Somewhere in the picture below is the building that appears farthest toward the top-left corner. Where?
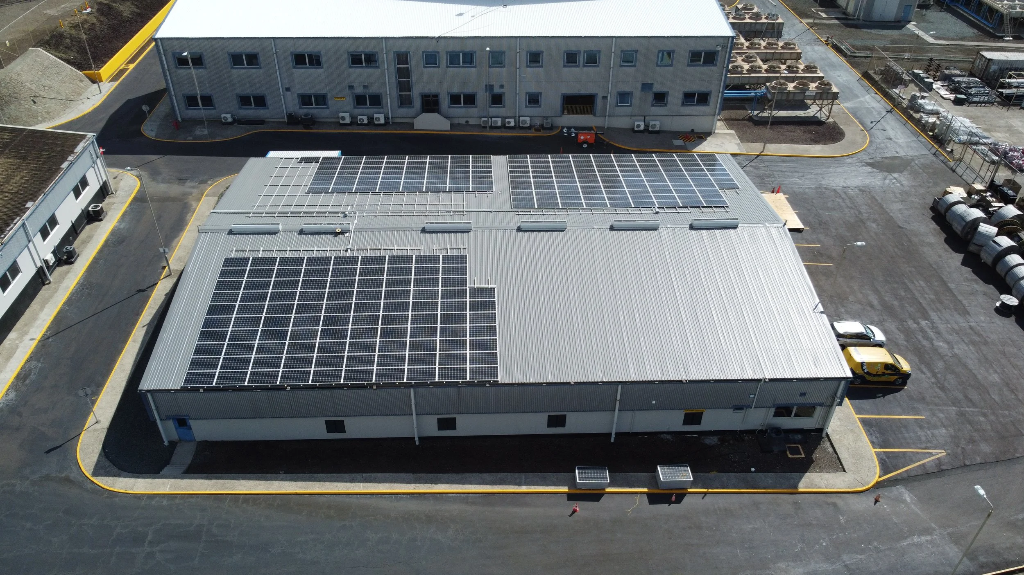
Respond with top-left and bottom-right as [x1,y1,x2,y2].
[0,122,114,346]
